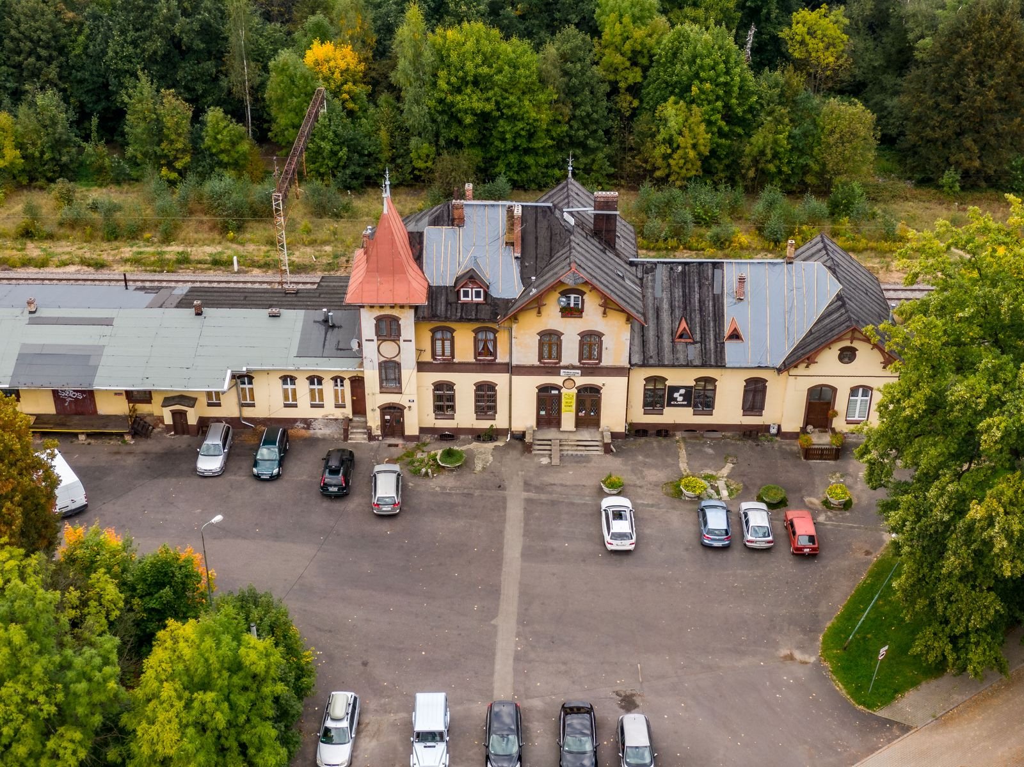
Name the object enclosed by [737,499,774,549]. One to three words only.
car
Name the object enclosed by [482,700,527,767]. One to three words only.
car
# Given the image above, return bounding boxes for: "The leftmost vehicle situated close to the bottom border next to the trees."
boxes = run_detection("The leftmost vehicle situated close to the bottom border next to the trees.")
[316,692,364,767]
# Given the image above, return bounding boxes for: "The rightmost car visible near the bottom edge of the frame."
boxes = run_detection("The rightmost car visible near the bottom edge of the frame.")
[614,716,658,767]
